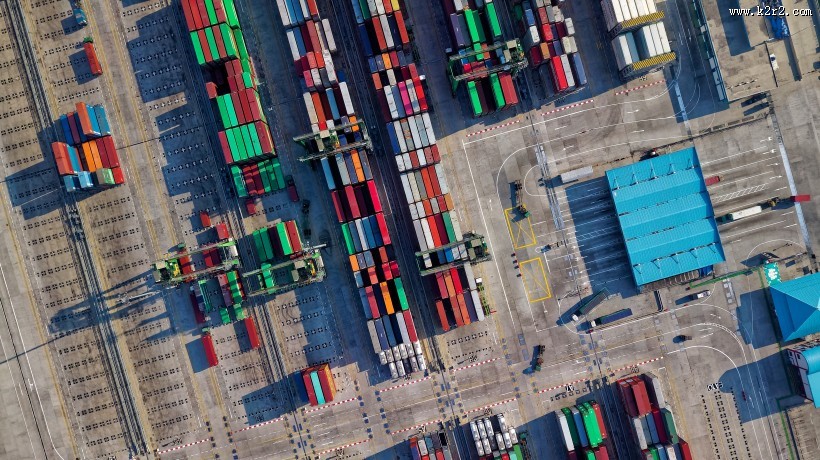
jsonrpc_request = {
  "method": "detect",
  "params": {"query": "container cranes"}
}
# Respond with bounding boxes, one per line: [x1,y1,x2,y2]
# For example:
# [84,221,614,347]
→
[445,34,532,98]
[294,117,374,171]
[147,237,247,287]
[413,231,494,280]
[242,249,328,298]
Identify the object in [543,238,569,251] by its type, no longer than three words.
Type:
vehicle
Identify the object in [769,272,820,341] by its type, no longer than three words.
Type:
building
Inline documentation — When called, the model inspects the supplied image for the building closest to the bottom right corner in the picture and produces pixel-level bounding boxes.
[786,338,820,411]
